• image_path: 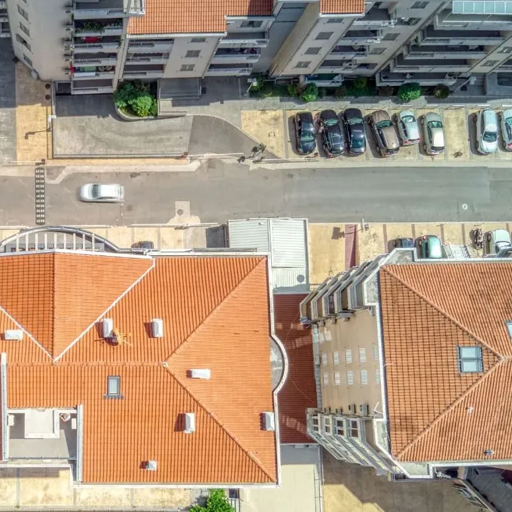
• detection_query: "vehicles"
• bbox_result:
[478,232,488,251]
[491,229,512,252]
[293,112,318,156]
[317,111,345,156]
[339,109,368,156]
[419,114,448,156]
[498,110,512,152]
[475,111,501,154]
[80,182,124,203]
[418,233,443,257]
[368,111,399,156]
[393,111,421,147]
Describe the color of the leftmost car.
white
